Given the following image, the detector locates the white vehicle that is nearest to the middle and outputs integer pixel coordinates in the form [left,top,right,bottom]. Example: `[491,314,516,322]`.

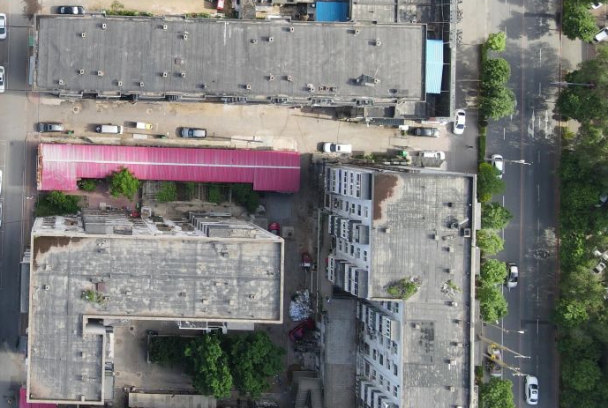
[323,141,351,153]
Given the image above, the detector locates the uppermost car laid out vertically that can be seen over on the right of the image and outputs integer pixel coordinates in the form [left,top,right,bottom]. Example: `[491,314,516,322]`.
[452,108,465,136]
